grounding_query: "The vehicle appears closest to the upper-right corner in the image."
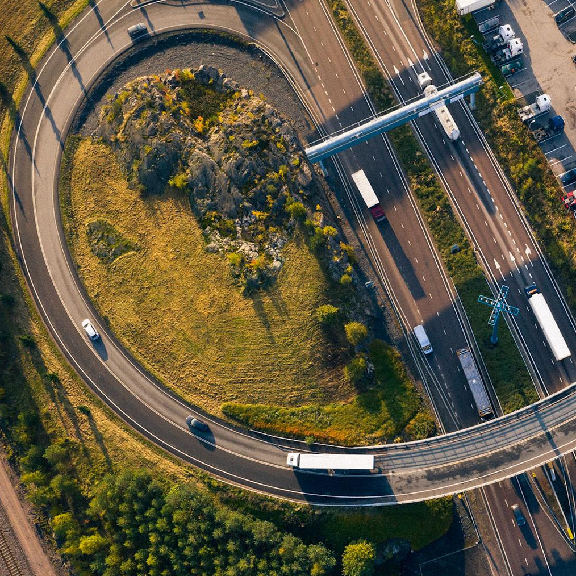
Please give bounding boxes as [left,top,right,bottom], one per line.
[553,7,575,26]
